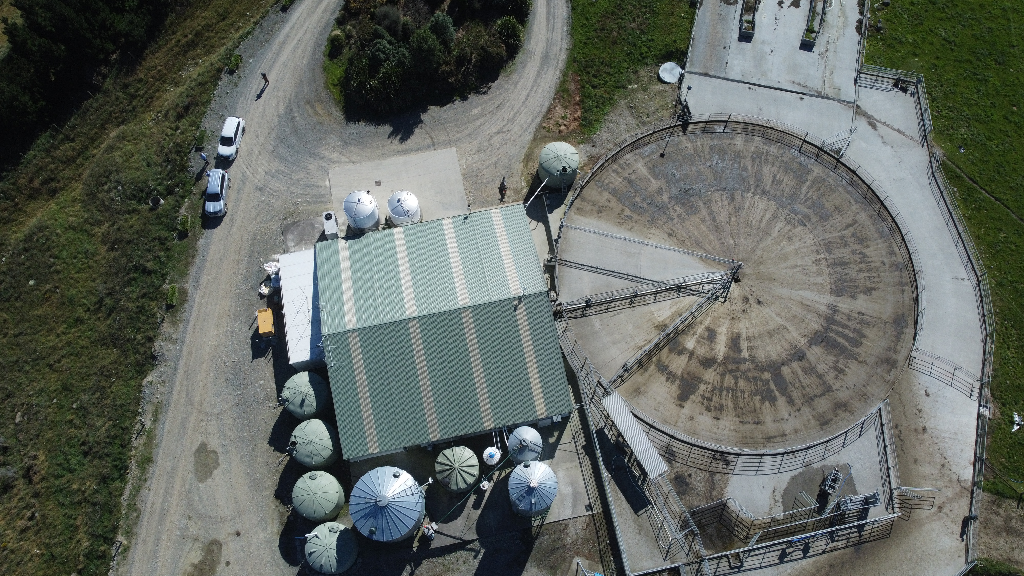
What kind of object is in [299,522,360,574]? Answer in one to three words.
water tank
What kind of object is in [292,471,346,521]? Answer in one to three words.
water tank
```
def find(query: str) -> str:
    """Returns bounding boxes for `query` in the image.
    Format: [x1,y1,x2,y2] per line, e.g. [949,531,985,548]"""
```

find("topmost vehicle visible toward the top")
[215,117,246,163]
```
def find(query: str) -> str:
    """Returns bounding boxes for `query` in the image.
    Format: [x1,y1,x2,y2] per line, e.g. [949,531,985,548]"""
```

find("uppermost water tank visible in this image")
[527,142,582,205]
